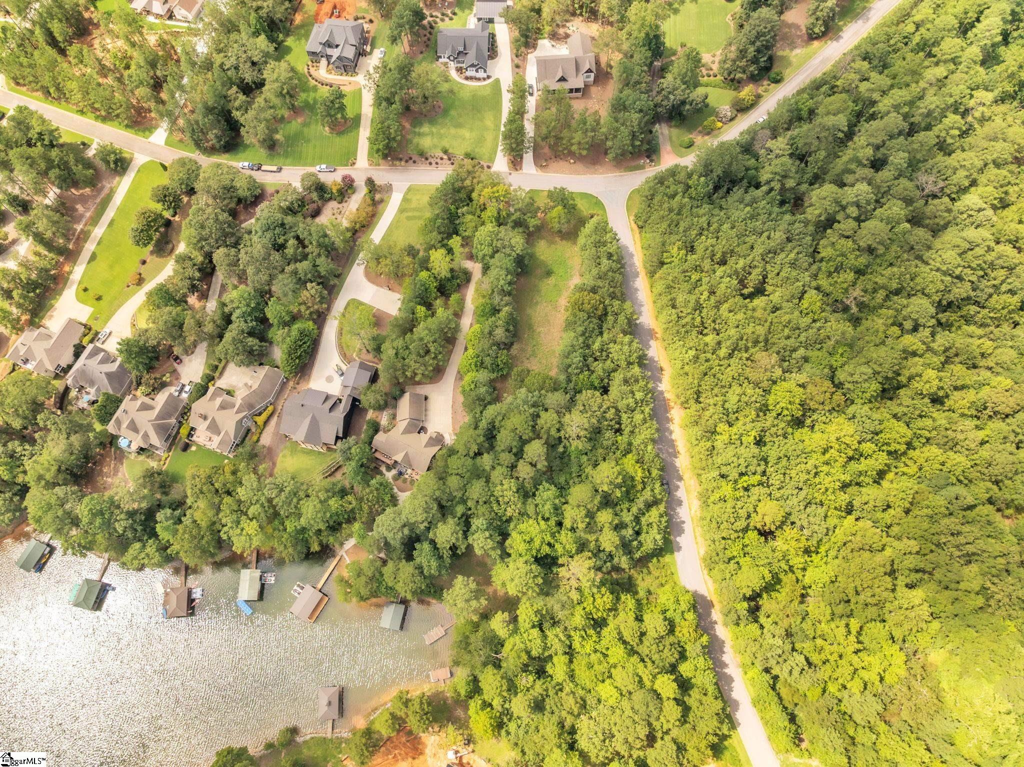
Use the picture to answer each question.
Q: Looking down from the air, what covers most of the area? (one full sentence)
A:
For the most part, this view shows trees.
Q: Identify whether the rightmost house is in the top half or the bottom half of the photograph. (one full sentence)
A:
Seen from above, the rightmost house lies in the top half of the view.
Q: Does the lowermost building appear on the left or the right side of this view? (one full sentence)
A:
The lowermost building appears in the left half of the scene.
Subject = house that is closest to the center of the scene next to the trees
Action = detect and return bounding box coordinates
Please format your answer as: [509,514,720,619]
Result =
[371,392,444,479]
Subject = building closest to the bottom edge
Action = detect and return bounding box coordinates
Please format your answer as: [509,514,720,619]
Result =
[318,686,344,735]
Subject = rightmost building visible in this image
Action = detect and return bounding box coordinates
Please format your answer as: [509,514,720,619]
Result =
[535,32,596,97]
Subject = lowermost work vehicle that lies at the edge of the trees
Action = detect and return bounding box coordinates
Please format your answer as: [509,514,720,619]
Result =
[447,747,476,764]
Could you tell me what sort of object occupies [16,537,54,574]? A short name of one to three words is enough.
building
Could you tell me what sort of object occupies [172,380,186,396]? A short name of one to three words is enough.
car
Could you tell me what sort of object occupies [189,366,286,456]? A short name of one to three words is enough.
building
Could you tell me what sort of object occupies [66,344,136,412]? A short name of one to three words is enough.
house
